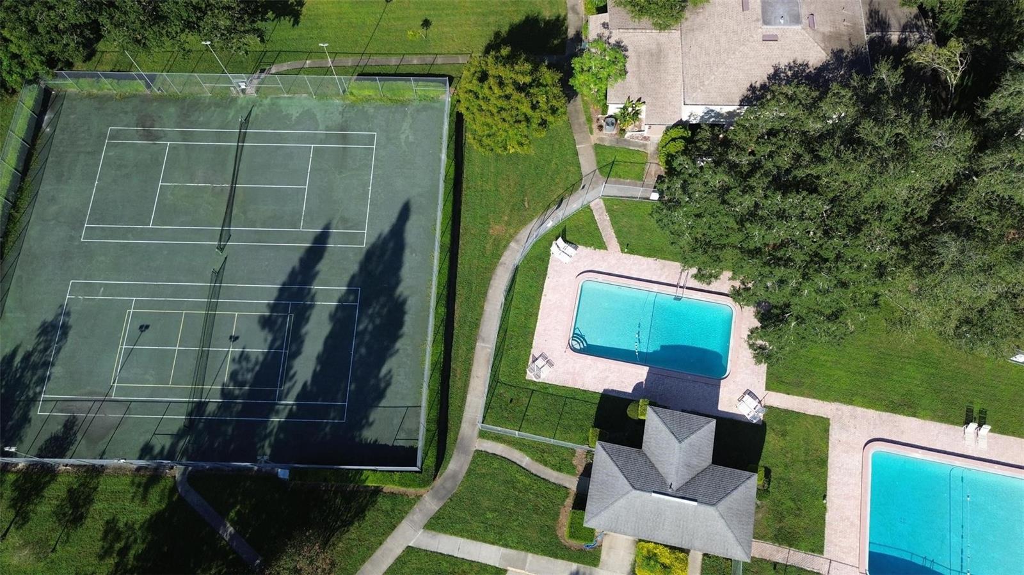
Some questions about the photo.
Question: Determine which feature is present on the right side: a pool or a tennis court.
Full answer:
The feature located on the right side is a pool.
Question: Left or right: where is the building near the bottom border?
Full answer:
The building near the bottom border sits on the right side.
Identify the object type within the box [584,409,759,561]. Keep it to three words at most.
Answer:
building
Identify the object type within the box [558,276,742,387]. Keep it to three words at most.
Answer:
swimming pool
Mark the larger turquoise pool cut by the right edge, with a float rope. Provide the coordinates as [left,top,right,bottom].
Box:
[859,442,1024,575]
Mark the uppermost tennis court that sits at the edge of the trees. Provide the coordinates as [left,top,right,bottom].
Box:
[8,95,446,268]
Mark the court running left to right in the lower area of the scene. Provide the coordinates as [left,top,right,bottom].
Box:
[0,259,434,468]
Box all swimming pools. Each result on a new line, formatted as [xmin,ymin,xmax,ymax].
[558,276,742,387]
[859,442,1024,575]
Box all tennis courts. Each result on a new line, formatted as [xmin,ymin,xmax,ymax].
[0,259,434,468]
[8,95,446,268]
